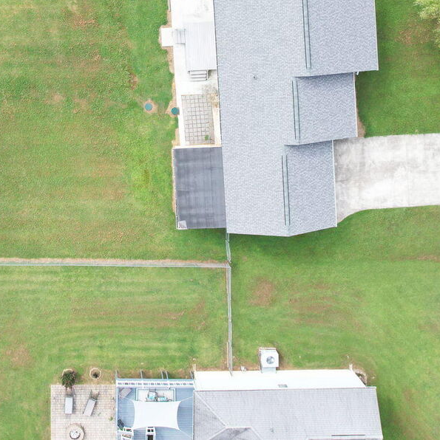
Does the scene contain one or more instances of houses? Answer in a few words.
Yes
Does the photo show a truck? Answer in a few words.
No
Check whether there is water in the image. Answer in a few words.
No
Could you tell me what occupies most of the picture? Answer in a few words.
grass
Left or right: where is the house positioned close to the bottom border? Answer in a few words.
right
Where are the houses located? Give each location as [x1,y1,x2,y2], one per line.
[171,0,380,236]
[193,361,382,440]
